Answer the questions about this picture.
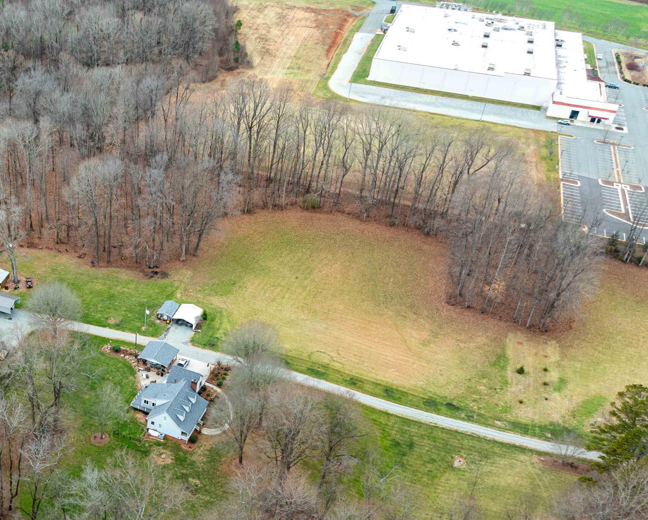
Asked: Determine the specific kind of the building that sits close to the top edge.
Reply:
warehouse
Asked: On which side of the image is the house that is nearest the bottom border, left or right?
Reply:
left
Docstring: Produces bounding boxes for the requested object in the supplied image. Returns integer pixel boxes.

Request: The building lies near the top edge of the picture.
[369,6,619,124]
